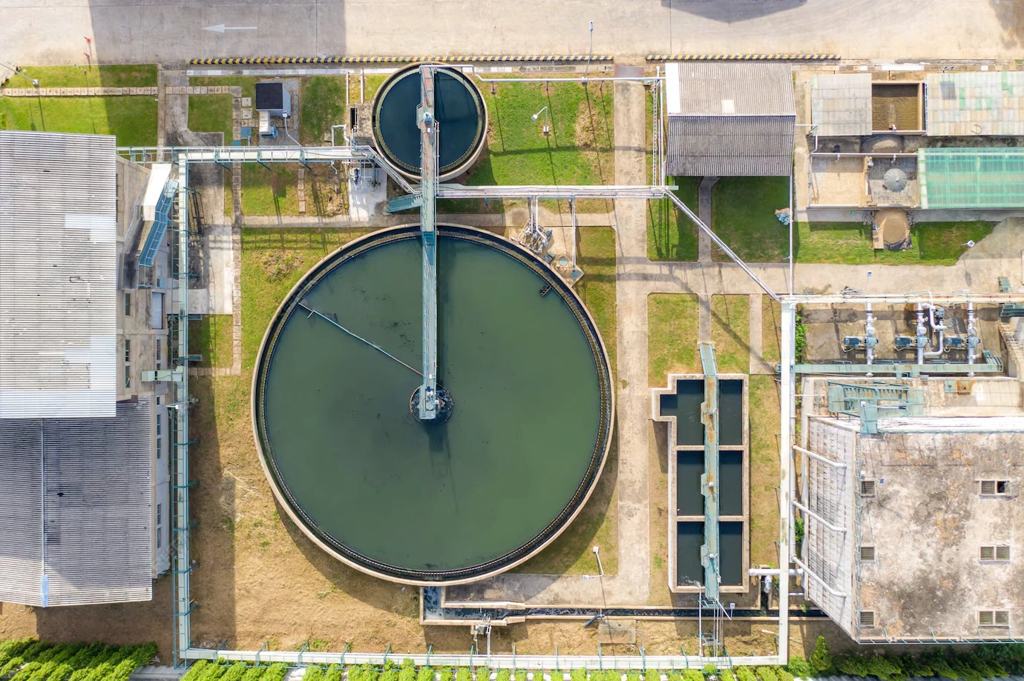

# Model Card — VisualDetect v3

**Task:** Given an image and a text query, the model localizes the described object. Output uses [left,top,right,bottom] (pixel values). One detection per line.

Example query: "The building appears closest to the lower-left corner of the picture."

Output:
[0,396,171,608]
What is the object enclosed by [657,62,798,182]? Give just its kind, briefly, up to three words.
shed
